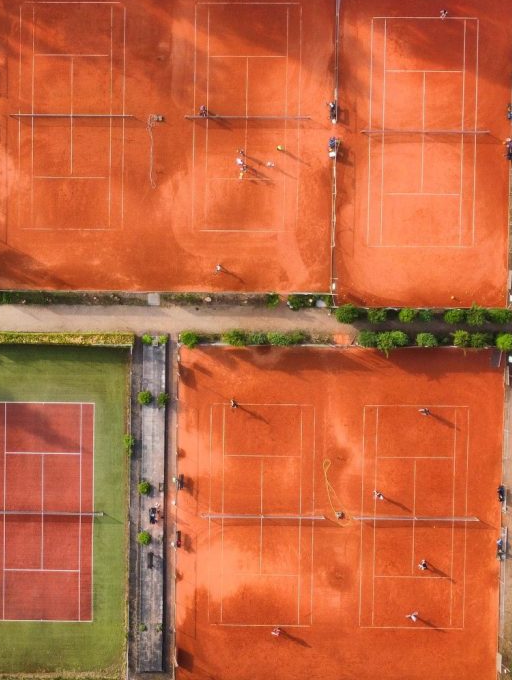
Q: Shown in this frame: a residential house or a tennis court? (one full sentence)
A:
Of the two, only a tennis court appears.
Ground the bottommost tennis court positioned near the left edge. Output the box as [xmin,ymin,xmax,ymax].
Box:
[0,343,130,679]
